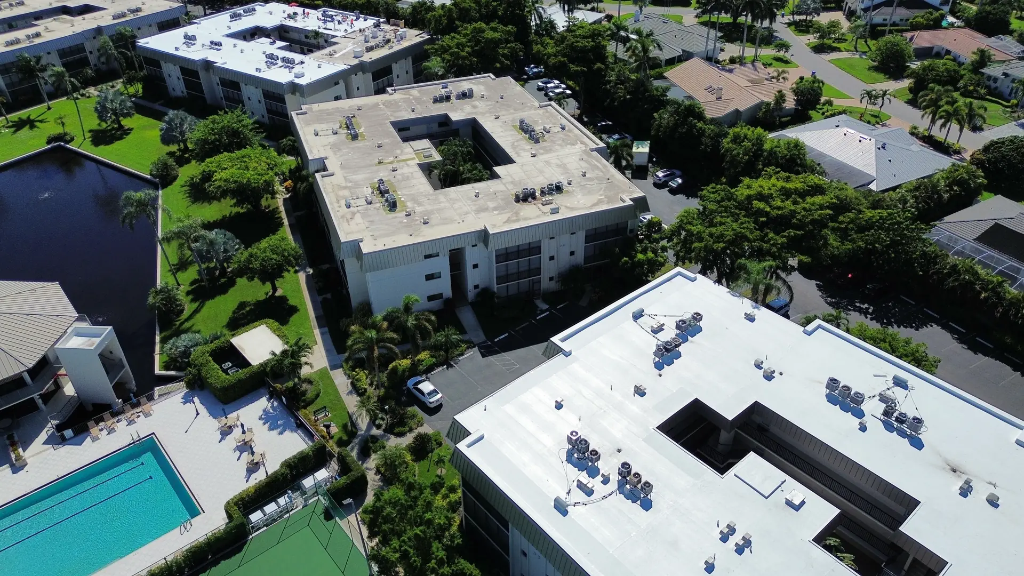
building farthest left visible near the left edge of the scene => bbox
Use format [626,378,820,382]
[0,280,91,431]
